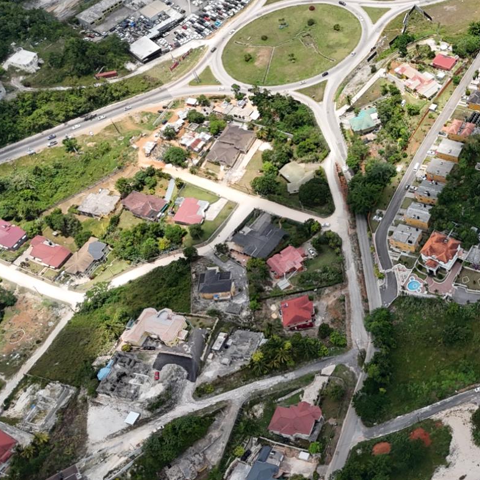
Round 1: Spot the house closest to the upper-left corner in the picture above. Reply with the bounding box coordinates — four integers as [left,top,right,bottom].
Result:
[4,51,46,74]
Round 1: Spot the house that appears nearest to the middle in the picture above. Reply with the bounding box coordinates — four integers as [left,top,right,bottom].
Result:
[231,213,287,258]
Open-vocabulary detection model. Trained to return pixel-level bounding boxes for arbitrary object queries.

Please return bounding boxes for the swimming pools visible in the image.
[406,276,422,292]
